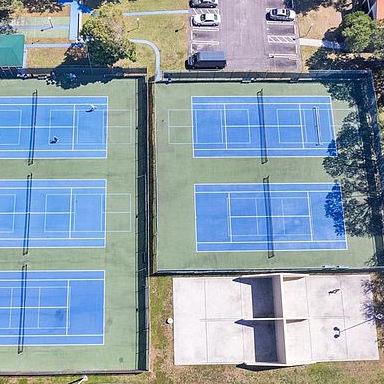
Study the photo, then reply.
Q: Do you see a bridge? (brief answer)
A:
No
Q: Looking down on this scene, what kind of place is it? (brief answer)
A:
sports ground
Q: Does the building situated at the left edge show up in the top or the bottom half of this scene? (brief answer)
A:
top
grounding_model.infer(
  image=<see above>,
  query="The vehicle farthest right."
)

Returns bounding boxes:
[268,7,295,20]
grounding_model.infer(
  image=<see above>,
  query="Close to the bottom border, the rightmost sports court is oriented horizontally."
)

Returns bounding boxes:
[173,273,378,365]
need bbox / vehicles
[191,0,218,7]
[189,50,227,67]
[192,13,219,26]
[268,7,295,20]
